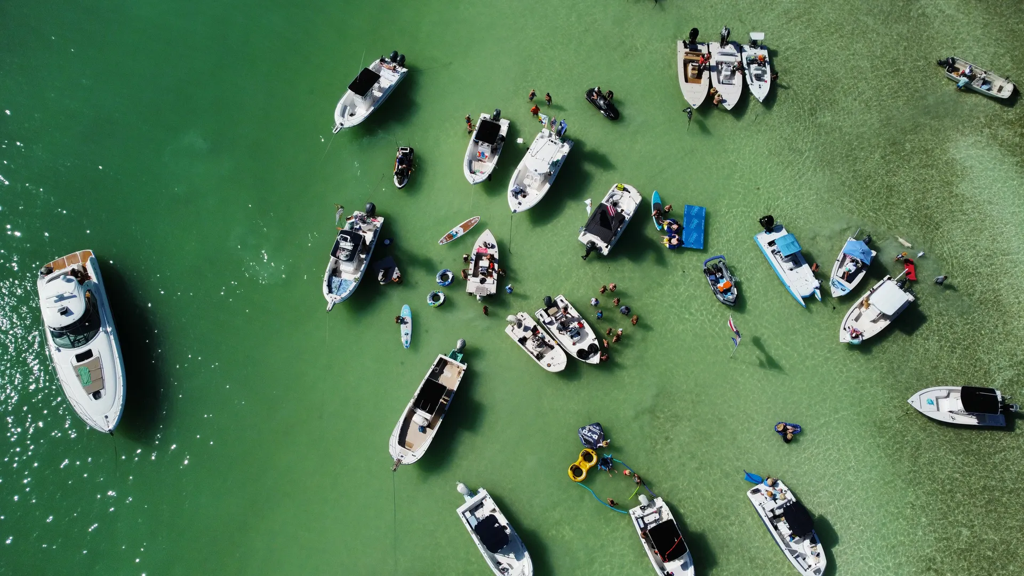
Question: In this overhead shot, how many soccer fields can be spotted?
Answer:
0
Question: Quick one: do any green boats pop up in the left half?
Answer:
No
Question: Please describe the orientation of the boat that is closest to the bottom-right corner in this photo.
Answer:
from side to side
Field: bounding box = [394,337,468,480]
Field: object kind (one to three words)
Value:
boat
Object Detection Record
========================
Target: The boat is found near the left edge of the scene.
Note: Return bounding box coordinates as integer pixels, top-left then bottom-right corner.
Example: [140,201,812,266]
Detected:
[41,246,134,446]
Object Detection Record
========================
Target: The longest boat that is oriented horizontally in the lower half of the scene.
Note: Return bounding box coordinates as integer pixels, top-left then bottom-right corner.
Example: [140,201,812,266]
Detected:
[898,386,1022,427]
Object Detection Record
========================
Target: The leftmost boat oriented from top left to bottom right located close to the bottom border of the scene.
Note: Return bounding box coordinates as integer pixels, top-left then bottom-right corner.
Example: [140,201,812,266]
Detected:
[454,473,531,576]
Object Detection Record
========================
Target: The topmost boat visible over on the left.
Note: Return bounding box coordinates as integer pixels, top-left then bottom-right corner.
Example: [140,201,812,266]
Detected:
[337,52,433,133]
